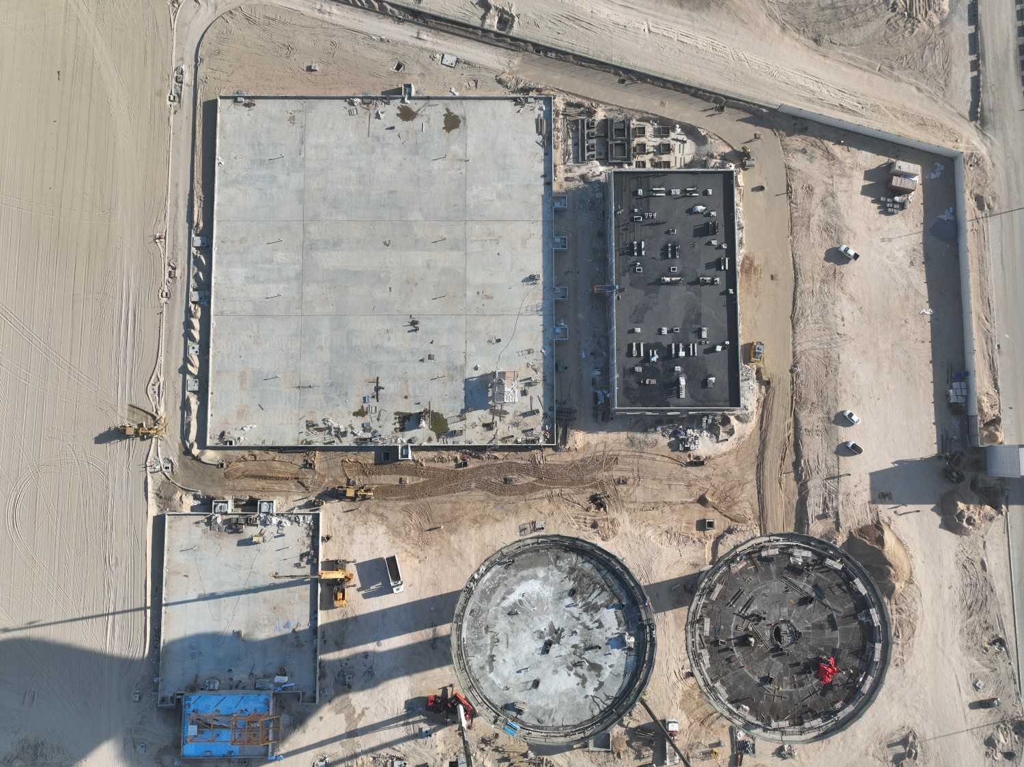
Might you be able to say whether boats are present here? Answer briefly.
No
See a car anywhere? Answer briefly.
Yes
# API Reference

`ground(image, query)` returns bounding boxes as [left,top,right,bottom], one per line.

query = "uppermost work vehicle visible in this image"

[743,149,755,168]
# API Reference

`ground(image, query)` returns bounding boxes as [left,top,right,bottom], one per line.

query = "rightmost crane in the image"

[636,694,690,767]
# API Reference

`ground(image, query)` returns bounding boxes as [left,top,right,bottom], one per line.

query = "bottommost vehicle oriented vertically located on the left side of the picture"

[383,556,404,597]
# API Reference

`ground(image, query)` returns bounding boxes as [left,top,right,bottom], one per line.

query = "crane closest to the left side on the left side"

[270,557,356,608]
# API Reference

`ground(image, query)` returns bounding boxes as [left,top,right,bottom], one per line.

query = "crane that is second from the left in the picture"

[420,686,473,767]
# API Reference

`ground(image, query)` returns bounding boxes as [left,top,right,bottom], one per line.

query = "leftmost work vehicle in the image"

[118,422,162,438]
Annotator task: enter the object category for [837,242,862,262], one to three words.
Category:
vehicle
